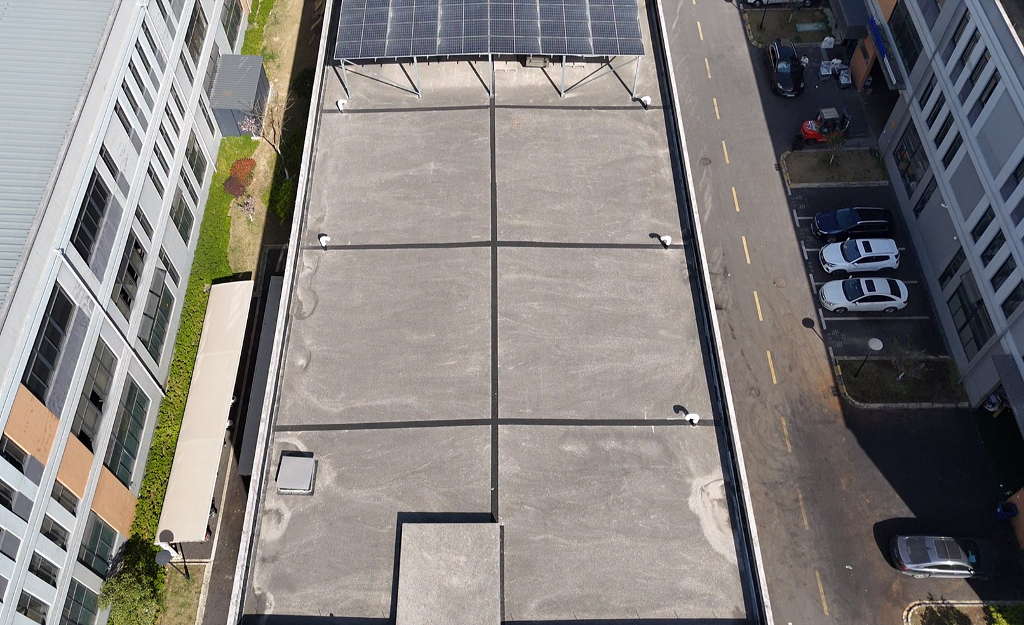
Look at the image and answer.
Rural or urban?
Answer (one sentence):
It looks urban.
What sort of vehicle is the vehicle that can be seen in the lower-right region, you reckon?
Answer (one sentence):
It turns out the vehicle that can be seen in the lower-right region is a car.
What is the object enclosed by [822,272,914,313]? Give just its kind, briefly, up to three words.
car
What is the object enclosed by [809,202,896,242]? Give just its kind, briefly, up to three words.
car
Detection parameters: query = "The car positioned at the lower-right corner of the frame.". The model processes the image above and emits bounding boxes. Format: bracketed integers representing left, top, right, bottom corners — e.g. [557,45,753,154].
[890,527,1005,578]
